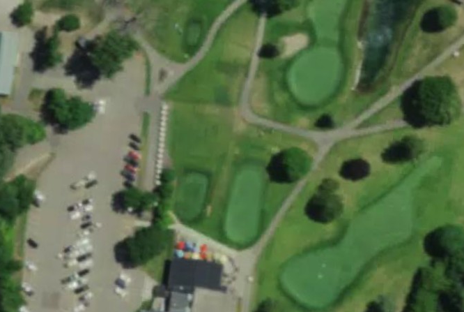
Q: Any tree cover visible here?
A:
Yes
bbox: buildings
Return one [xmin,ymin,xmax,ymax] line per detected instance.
[146,260,236,312]
[0,31,17,96]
